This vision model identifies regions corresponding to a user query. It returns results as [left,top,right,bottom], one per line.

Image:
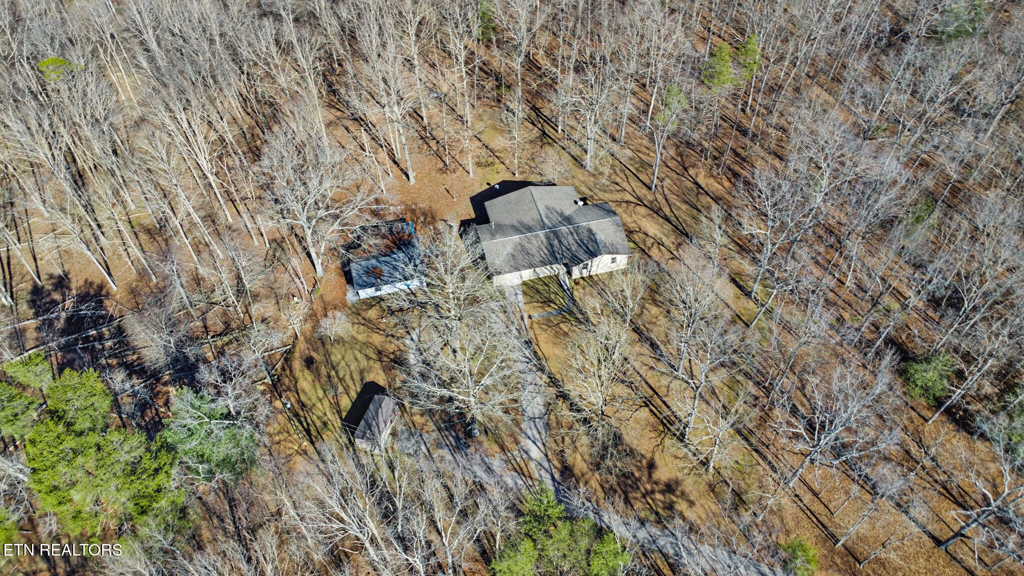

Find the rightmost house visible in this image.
[476,186,632,285]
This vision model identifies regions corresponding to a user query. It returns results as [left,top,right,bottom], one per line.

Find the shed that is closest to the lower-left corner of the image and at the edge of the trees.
[354,395,399,451]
